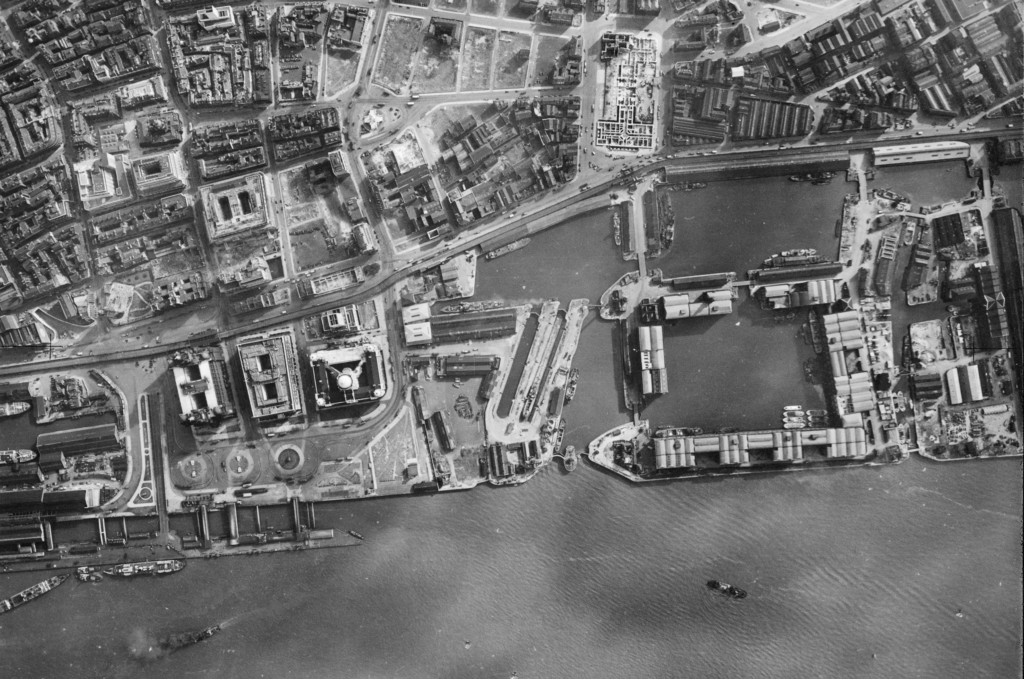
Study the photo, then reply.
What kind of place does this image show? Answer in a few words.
port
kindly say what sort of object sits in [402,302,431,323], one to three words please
shed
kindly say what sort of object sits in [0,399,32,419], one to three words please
ship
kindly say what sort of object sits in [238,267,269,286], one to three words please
building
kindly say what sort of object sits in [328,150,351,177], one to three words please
building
